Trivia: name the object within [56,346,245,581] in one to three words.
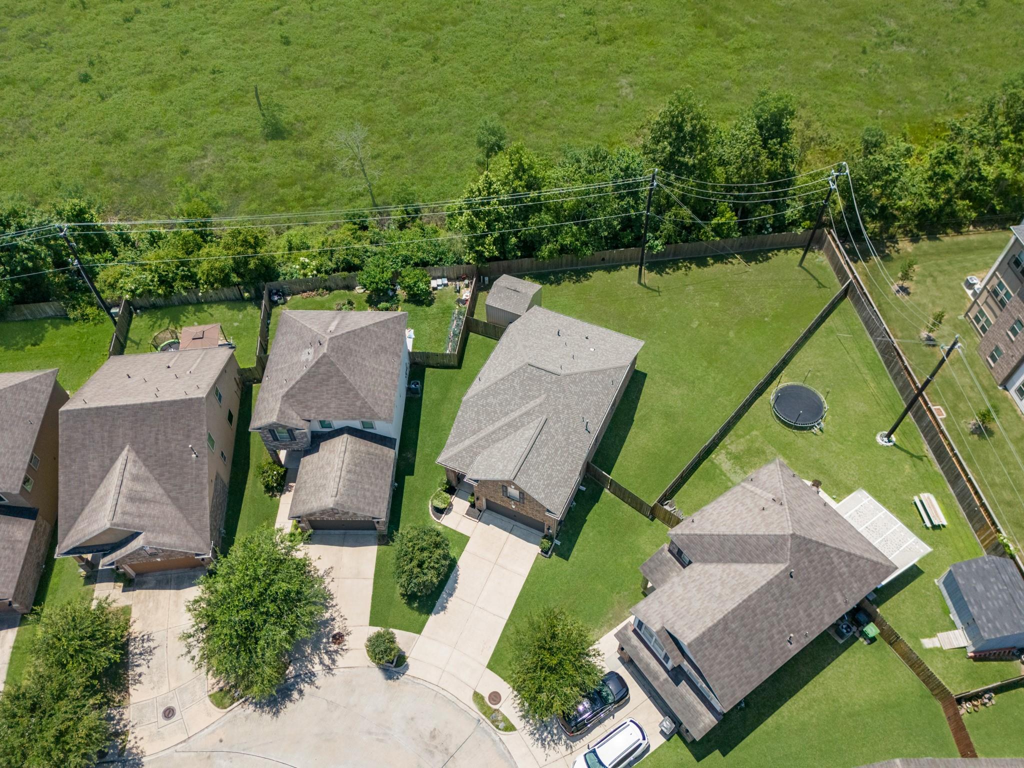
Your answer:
house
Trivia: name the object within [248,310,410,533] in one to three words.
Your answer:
house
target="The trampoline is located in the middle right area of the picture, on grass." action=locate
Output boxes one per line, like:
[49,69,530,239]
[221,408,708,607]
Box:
[763,368,837,437]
